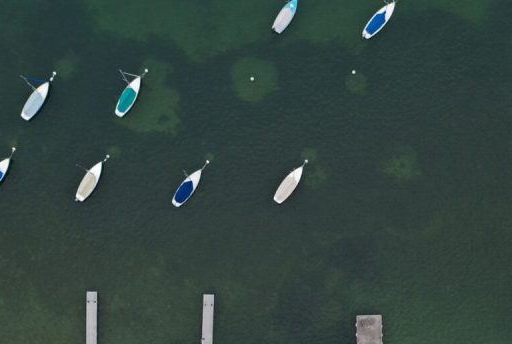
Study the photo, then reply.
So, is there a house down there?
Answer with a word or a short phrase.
No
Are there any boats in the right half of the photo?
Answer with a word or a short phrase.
Yes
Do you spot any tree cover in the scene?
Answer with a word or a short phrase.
No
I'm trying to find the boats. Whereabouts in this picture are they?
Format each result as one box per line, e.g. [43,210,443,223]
[21,74,54,122]
[361,0,395,41]
[0,151,13,183]
[274,0,298,35]
[274,162,306,205]
[116,71,145,118]
[76,159,106,203]
[172,163,207,208]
